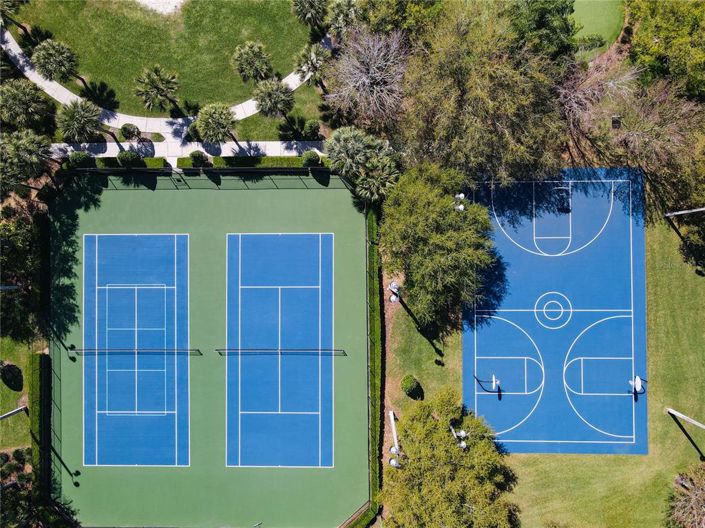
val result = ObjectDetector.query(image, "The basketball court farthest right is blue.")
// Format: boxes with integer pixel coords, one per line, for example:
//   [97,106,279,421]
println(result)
[461,167,648,454]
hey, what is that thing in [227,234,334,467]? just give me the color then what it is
blue tennis court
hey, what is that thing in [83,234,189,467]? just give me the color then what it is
blue tennis court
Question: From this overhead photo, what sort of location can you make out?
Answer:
sports ground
